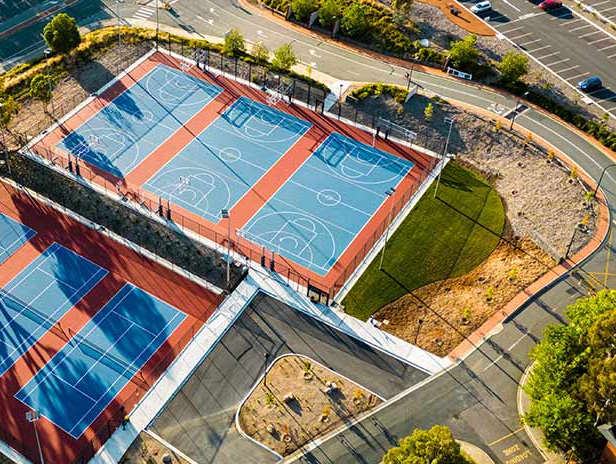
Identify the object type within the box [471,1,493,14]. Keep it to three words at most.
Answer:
vehicle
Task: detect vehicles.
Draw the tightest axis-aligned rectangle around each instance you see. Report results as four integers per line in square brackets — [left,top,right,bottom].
[471,1,493,14]
[541,0,562,11]
[579,76,603,92]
